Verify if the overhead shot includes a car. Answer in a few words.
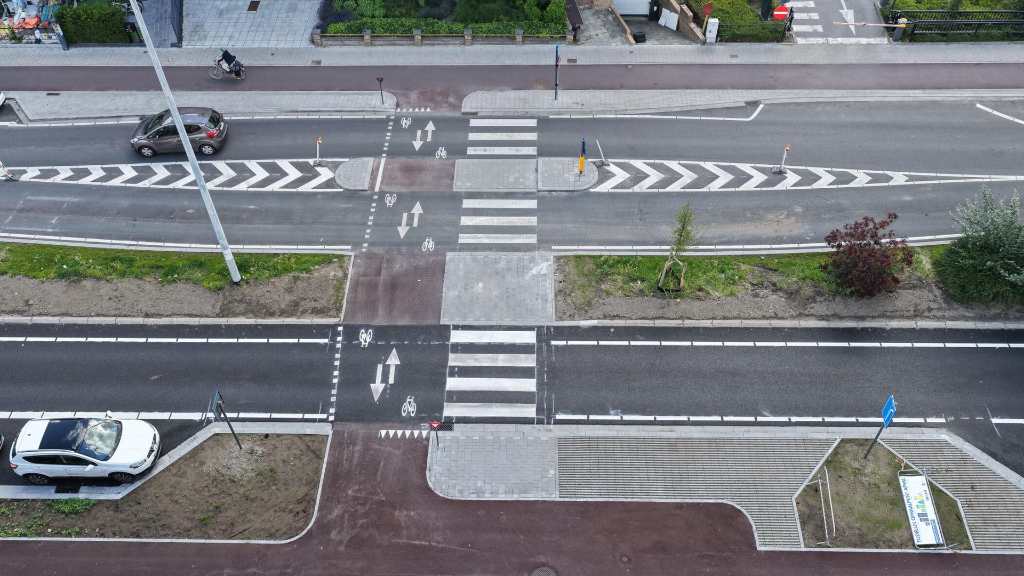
Yes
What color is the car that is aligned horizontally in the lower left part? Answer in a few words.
white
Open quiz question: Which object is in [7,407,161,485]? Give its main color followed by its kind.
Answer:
white car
